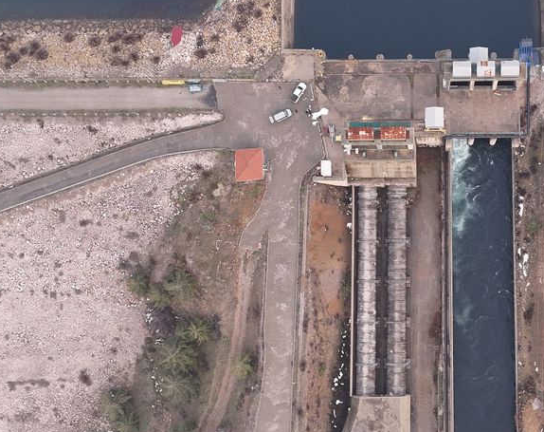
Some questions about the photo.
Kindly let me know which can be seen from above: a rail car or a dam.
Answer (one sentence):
I can see a dam in this picture.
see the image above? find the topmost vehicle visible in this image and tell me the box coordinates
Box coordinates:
[289,82,309,104]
